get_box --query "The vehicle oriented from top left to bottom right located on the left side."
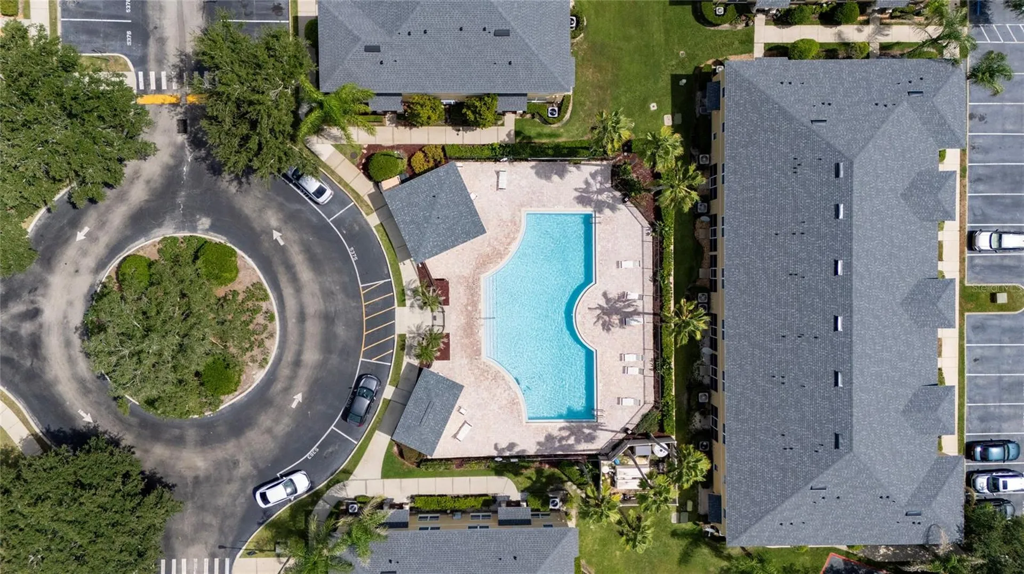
[284,165,336,208]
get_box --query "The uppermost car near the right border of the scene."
[971,228,1024,254]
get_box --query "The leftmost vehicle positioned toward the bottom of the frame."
[254,469,312,508]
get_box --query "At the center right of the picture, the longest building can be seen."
[696,59,967,547]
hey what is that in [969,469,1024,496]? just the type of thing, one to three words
car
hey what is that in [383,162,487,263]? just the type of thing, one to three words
building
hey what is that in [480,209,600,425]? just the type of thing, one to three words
swimming pool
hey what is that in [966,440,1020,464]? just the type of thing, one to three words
car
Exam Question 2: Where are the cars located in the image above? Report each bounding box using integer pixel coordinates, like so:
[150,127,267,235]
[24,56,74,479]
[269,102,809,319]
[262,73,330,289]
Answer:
[966,440,1020,464]
[284,165,336,208]
[254,469,312,508]
[969,469,1024,496]
[344,372,381,428]
[971,228,1024,254]
[966,497,1019,524]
